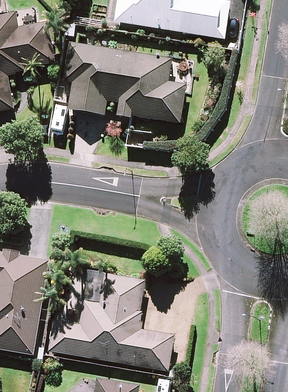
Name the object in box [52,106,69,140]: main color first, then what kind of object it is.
white camper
